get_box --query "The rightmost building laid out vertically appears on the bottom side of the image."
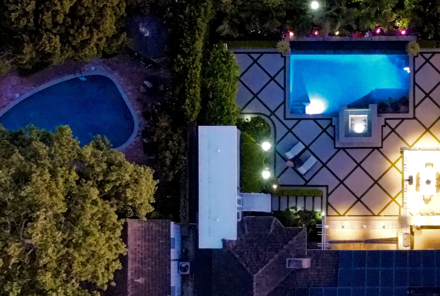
[197,125,247,249]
